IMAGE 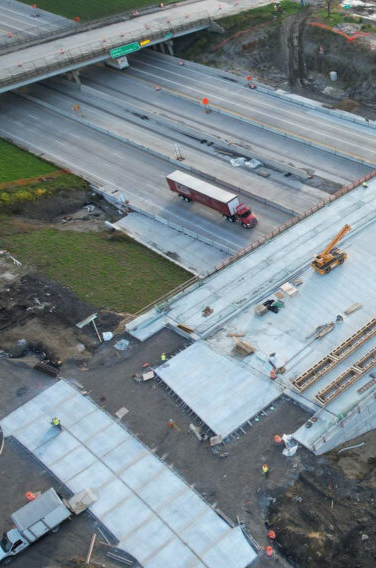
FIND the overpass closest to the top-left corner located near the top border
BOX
[0,0,249,103]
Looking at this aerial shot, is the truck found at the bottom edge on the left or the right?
left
